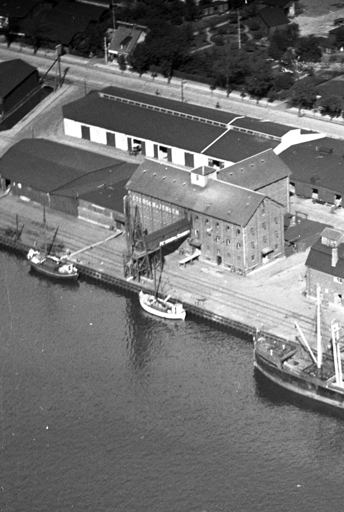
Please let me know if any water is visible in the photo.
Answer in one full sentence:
Yes, there's water in this view.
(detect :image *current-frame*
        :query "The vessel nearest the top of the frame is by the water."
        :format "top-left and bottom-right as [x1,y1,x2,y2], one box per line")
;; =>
[26,215,83,283]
